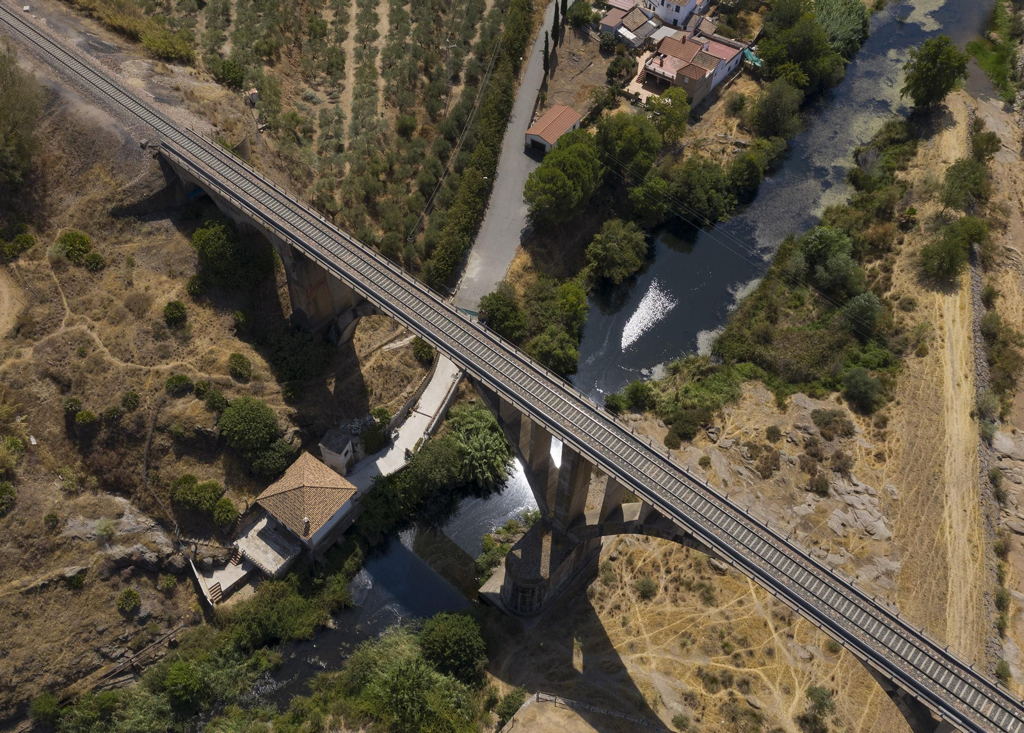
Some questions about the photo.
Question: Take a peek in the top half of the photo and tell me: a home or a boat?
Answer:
home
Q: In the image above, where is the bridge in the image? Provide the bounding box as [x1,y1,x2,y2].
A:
[139,112,1024,733]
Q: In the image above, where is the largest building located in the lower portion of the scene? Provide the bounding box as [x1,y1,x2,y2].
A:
[256,452,364,555]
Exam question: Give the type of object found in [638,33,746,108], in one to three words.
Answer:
house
